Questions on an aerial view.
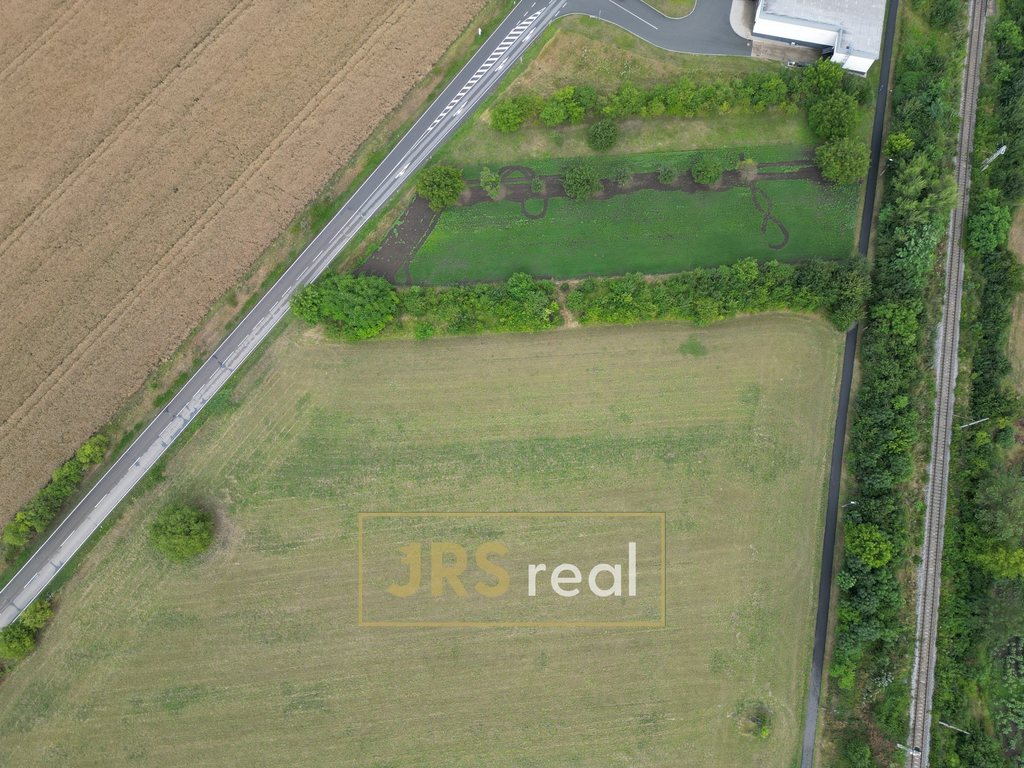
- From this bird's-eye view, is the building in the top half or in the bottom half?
top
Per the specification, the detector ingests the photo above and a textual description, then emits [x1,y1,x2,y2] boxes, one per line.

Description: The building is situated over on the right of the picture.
[752,0,883,75]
